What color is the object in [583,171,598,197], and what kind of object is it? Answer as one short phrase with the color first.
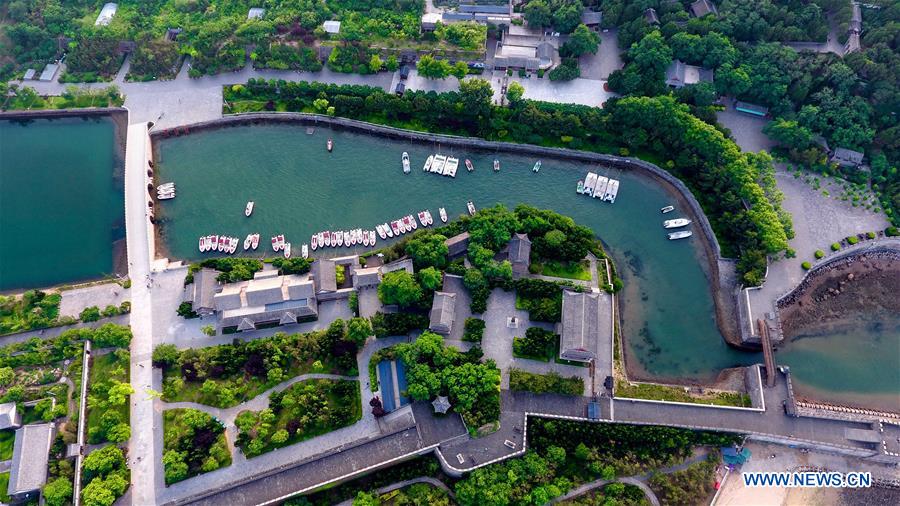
white boat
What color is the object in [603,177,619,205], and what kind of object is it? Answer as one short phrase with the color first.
white boat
